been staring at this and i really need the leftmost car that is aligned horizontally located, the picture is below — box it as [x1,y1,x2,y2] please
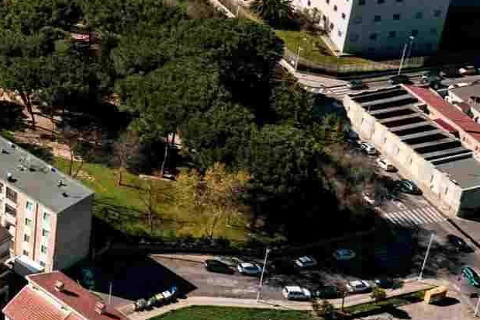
[204,258,231,273]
